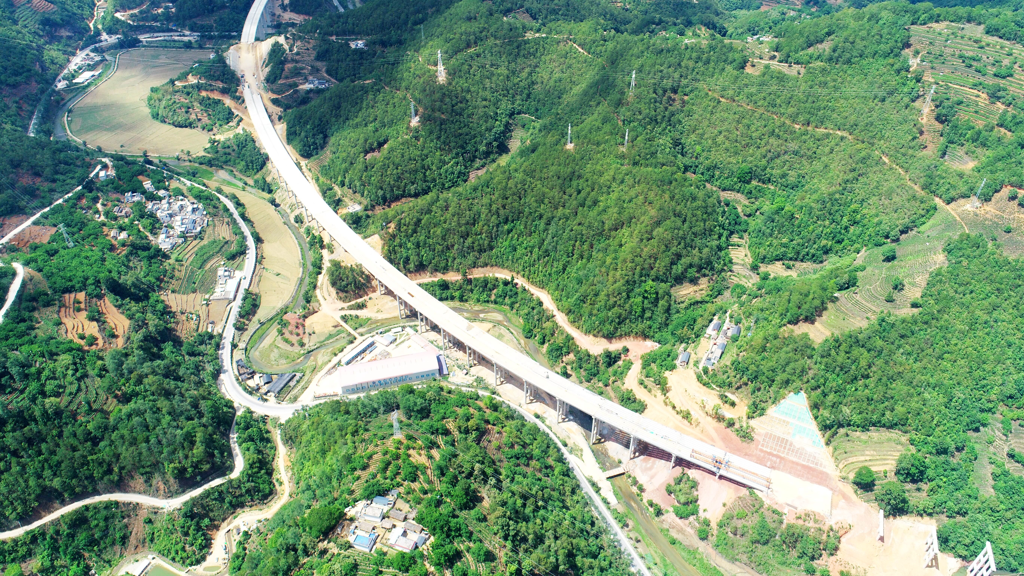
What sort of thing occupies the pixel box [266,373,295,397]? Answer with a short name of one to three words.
greenhouse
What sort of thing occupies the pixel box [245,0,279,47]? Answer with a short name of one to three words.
bridge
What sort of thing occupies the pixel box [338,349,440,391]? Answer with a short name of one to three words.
building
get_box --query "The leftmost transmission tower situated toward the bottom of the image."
[390,408,402,436]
